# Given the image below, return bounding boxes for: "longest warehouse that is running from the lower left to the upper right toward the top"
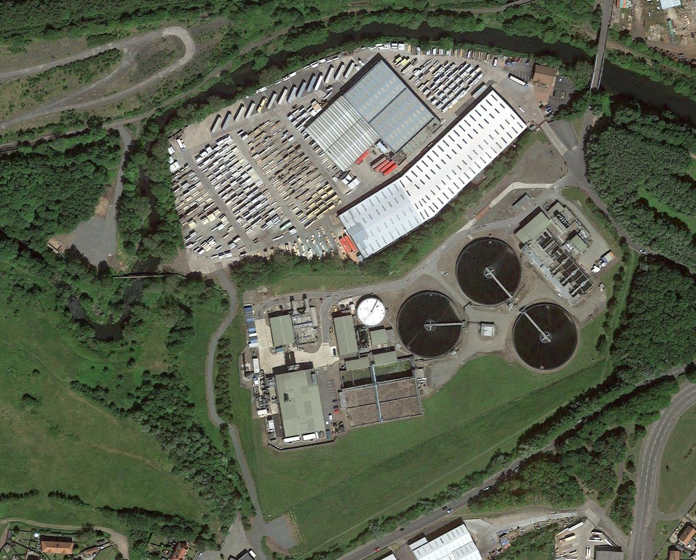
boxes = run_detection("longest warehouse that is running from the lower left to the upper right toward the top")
[338,89,527,260]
